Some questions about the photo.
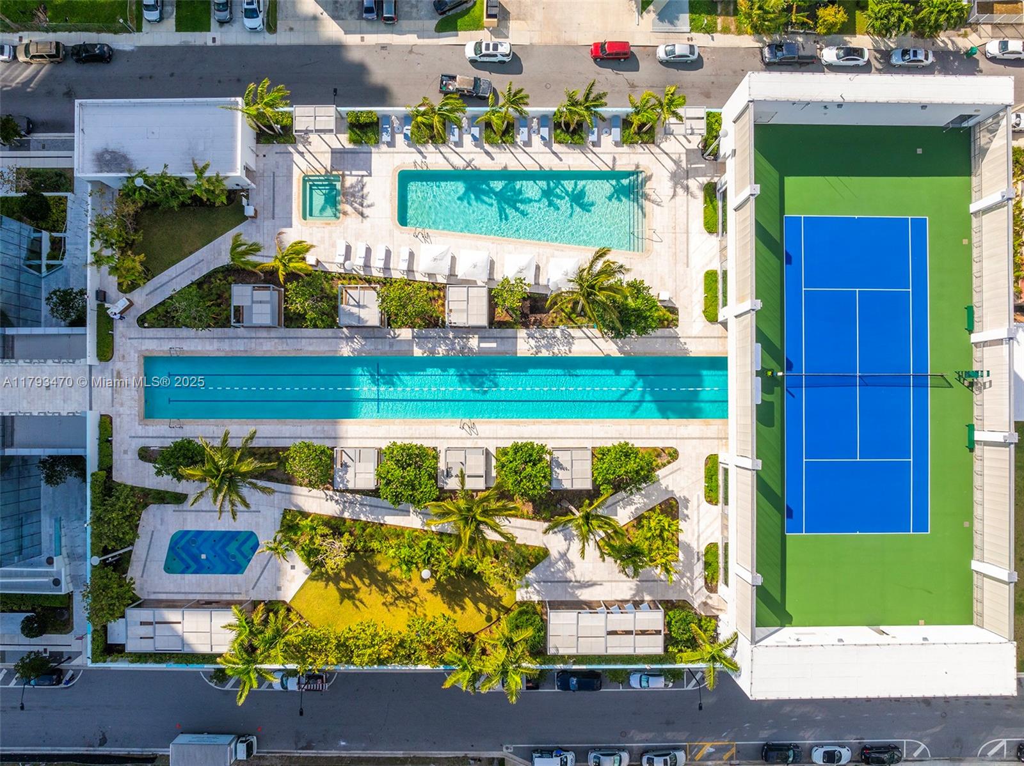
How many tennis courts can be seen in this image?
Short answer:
1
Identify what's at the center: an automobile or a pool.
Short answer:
pool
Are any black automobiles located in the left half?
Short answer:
Yes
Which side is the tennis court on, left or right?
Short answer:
right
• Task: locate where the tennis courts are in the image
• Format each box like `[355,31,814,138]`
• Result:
[756,125,974,624]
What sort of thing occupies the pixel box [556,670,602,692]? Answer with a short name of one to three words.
car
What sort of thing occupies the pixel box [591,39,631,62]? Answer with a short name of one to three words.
car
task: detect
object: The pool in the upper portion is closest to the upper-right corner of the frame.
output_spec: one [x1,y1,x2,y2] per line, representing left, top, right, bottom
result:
[391,164,652,258]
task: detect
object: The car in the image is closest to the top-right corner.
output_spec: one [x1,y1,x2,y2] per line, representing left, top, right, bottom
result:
[982,38,1024,61]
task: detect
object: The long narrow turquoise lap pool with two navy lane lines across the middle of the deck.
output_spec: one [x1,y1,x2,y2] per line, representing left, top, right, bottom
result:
[139,352,726,424]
